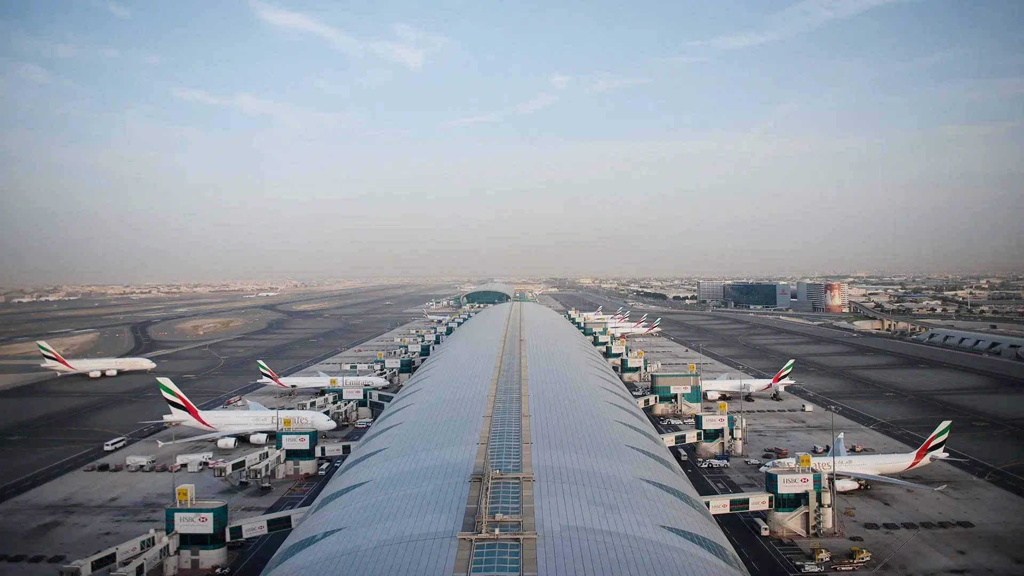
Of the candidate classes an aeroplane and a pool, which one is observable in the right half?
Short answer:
aeroplane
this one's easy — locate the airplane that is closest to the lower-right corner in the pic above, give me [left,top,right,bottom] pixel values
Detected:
[816,433,965,498]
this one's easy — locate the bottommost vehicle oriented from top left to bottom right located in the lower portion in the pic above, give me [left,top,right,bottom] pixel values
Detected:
[751,518,773,540]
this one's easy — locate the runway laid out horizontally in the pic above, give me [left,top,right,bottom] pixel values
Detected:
[0,286,446,340]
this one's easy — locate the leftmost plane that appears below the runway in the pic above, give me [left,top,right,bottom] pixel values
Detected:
[29,338,159,380]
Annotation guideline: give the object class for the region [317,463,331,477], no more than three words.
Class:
vehicle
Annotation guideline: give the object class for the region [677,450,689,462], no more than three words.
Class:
vehicle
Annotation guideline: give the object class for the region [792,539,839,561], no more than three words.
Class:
work vehicle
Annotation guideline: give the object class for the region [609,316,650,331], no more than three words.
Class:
airplane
